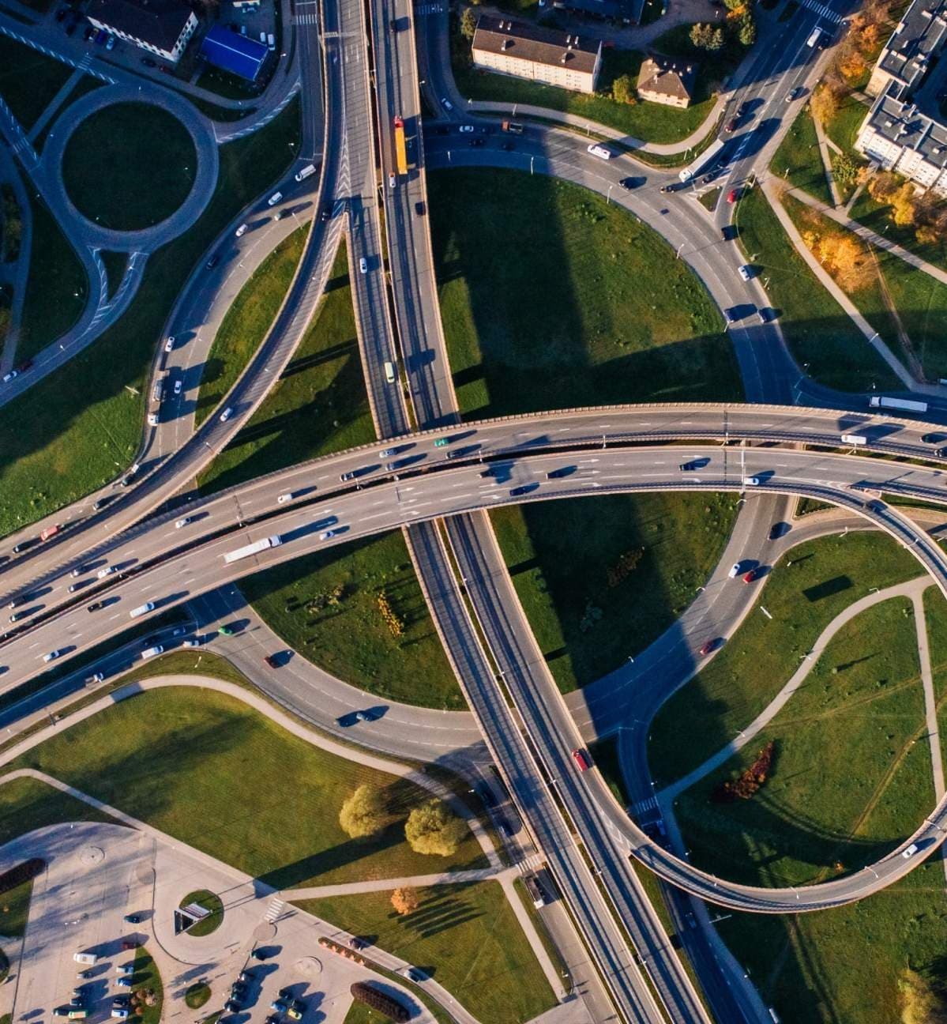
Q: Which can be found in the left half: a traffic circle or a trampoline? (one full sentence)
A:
It is a traffic circle that can be seen in the left half.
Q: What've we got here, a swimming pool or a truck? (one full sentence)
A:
Of the two, only a truck appears.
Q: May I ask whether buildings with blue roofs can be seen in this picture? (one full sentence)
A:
Yes, the picture does show a building with a blue roof.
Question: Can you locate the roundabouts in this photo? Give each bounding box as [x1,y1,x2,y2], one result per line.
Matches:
[43,77,219,251]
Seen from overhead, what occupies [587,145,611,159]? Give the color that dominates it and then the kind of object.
white vehicle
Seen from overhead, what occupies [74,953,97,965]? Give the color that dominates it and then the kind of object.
white vehicle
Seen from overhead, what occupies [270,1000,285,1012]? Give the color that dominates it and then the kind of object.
blue vehicle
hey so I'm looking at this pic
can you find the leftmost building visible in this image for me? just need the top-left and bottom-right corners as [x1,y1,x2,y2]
[86,0,199,66]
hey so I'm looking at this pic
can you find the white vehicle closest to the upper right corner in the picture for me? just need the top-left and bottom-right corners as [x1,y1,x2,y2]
[805,24,824,49]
